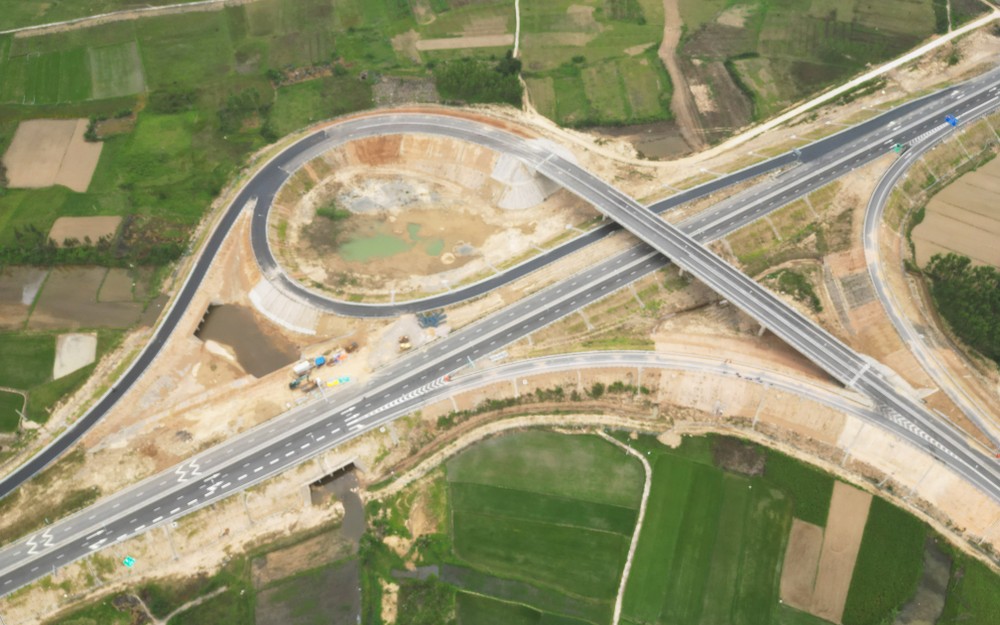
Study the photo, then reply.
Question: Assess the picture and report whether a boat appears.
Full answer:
No, the scene contains no boat.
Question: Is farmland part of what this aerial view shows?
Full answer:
Yes, farmland shows up in the scene.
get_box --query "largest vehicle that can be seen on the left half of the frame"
[294,354,324,374]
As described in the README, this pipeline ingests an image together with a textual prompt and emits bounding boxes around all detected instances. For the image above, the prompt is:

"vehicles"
[294,354,324,374]
[347,342,359,353]
[287,373,312,391]
[337,353,349,361]
[400,335,409,348]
